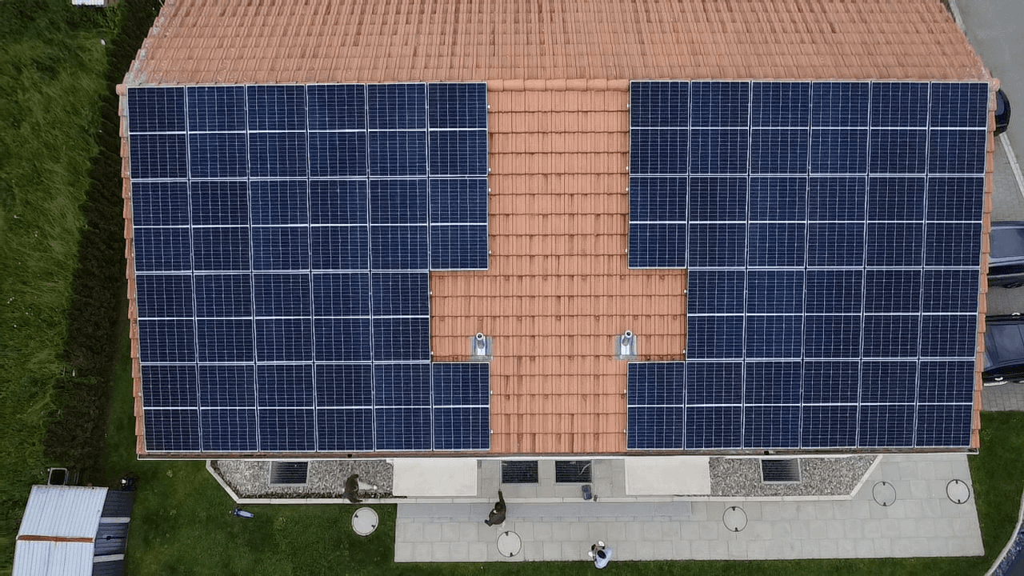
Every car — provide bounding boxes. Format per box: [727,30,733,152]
[985,316,1024,385]
[996,75,1021,137]
[990,216,1024,289]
